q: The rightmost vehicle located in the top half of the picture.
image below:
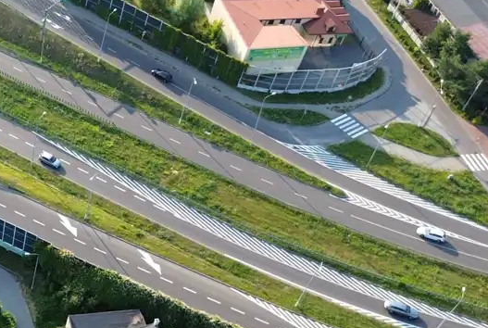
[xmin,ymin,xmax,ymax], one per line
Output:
[151,68,173,81]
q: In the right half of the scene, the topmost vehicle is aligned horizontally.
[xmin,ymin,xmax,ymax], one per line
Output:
[417,224,449,241]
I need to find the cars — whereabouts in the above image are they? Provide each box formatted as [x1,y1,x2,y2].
[386,299,419,319]
[417,224,449,241]
[151,68,173,81]
[38,150,62,168]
